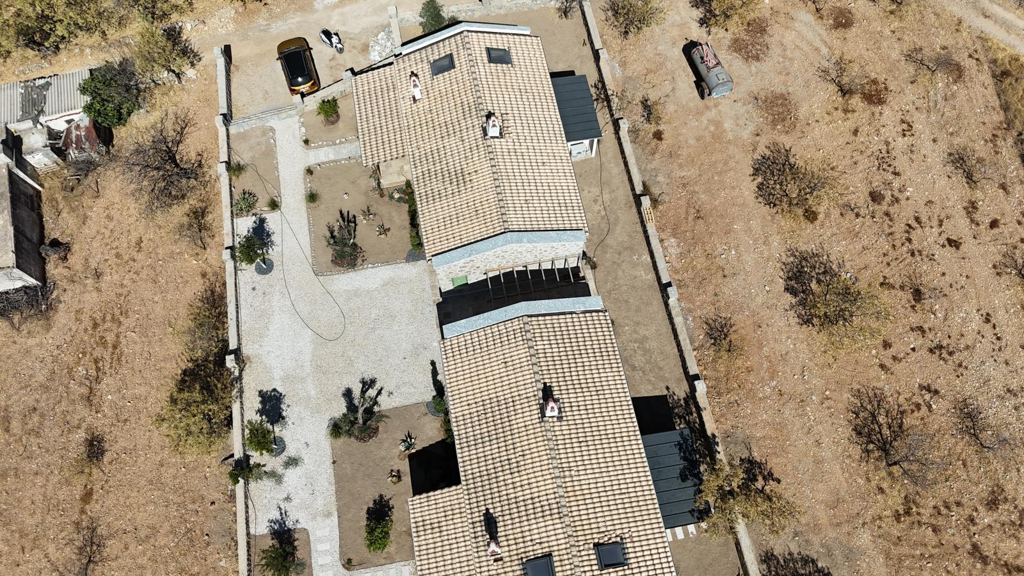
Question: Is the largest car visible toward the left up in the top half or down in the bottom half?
top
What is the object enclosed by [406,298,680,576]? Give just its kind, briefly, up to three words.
house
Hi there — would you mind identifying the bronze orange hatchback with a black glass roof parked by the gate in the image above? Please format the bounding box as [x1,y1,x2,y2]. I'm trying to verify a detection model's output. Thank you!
[280,39,322,99]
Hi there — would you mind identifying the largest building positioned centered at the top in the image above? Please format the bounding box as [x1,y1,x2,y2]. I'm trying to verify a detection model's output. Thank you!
[351,20,590,292]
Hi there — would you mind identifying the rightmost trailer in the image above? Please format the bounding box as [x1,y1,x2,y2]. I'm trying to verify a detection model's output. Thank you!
[691,39,735,104]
